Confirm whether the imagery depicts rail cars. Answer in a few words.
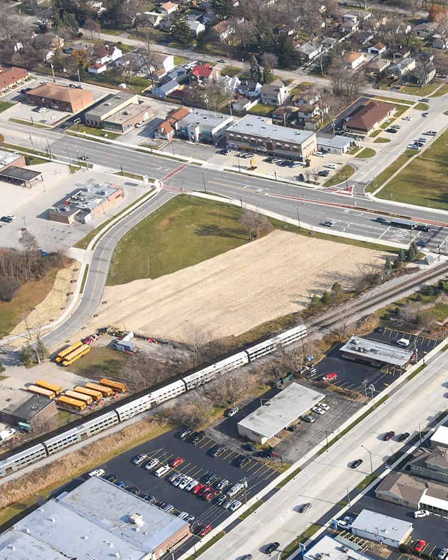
Yes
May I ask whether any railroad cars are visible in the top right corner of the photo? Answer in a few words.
No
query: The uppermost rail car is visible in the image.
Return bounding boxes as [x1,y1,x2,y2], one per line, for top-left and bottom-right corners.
[243,324,309,365]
